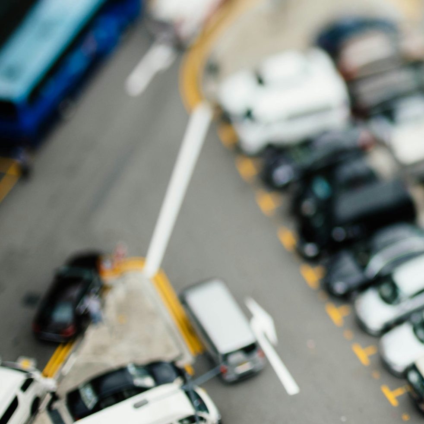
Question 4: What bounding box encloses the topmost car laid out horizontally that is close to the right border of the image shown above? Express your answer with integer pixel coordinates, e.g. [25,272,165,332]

[307,1,408,57]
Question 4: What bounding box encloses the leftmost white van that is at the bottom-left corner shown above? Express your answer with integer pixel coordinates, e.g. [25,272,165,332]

[0,366,57,424]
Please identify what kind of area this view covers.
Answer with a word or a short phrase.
parking lot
